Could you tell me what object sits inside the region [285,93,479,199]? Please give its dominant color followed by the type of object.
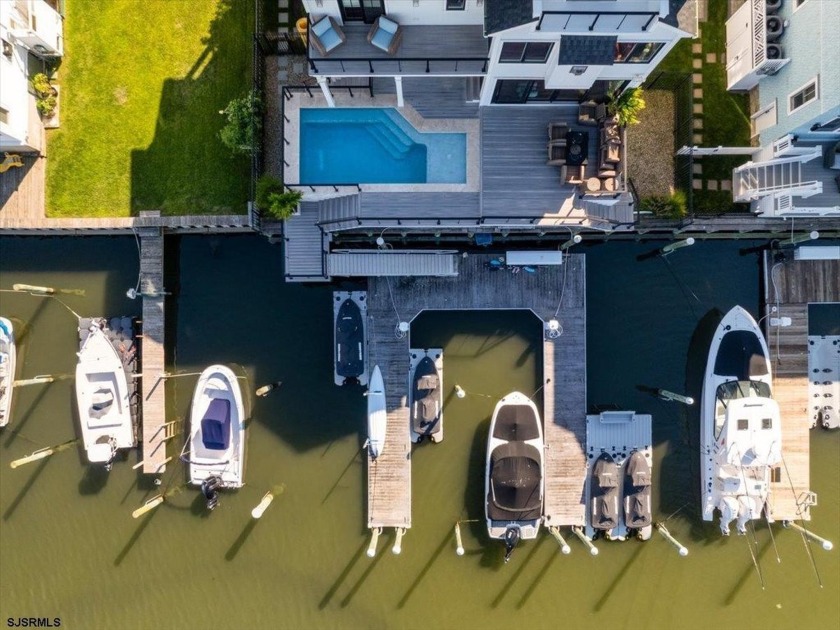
blue swimming pool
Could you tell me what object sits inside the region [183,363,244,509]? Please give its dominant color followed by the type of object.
white boat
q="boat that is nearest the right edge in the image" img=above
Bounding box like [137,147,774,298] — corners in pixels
[692,305,817,590]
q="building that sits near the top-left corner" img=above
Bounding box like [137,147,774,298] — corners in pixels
[0,0,63,155]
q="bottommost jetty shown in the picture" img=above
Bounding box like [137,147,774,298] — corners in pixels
[585,415,651,539]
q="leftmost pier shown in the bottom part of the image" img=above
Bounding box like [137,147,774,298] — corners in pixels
[78,317,143,452]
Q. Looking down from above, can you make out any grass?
Yes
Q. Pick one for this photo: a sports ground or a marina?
marina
